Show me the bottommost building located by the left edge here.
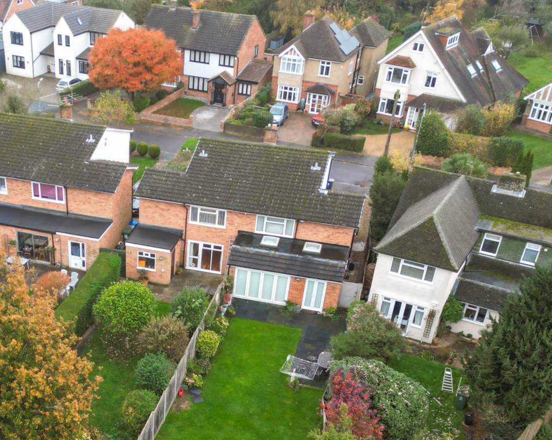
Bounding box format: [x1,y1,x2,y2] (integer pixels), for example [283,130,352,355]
[0,96,135,269]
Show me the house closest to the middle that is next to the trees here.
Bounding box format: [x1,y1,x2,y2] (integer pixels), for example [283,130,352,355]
[125,124,366,309]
